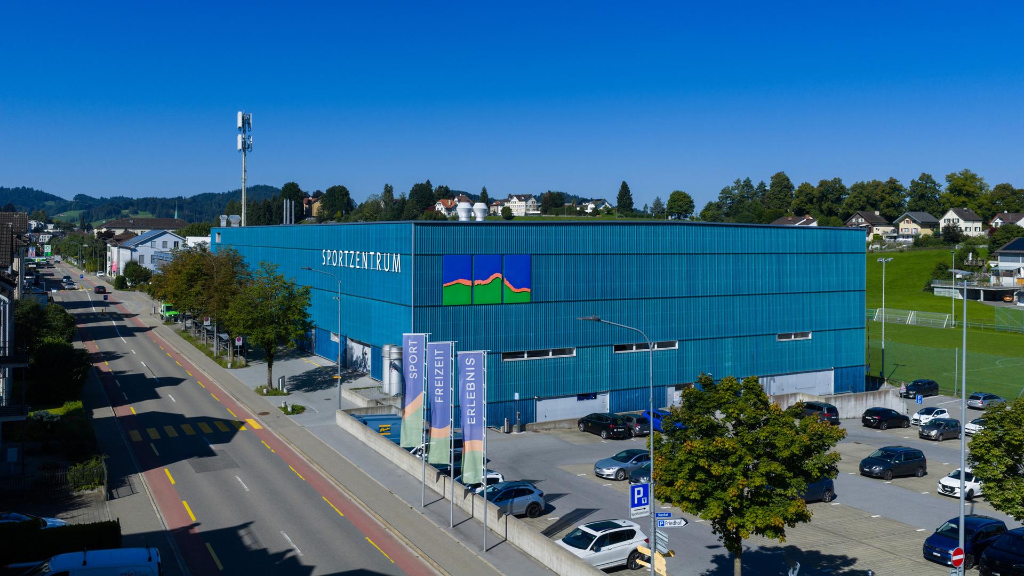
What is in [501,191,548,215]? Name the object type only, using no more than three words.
house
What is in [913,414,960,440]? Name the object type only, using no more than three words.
car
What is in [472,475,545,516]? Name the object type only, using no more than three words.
car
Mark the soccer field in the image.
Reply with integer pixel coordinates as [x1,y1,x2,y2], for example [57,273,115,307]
[863,324,1024,400]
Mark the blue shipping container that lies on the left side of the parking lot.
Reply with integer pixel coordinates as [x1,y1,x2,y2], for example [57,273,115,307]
[348,407,399,444]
